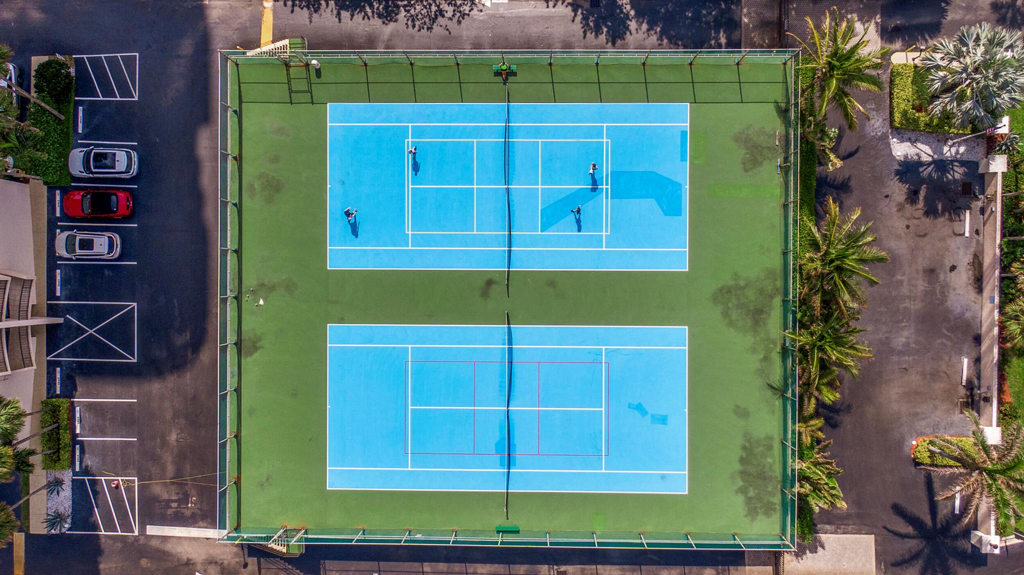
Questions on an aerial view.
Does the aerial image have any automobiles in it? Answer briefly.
Yes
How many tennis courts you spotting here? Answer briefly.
2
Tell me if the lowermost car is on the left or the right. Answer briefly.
left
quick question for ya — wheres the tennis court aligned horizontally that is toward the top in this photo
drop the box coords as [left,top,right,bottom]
[327,102,690,271]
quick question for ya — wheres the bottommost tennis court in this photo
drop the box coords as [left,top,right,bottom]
[326,324,688,494]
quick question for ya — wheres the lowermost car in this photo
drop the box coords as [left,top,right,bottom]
[56,228,122,262]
